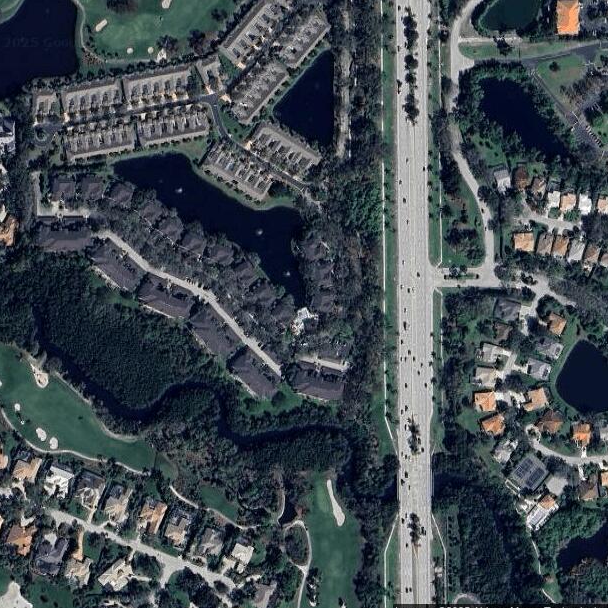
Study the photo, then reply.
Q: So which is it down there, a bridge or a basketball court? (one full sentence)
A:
I can see a bridge in this picture.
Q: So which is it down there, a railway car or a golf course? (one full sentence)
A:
Looking from above, you can make out a golf course.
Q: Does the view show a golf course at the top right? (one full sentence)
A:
No, there's no golf course to be seen at the top right.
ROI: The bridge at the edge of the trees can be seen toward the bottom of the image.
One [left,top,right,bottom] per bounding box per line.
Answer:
[397,455,434,508]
